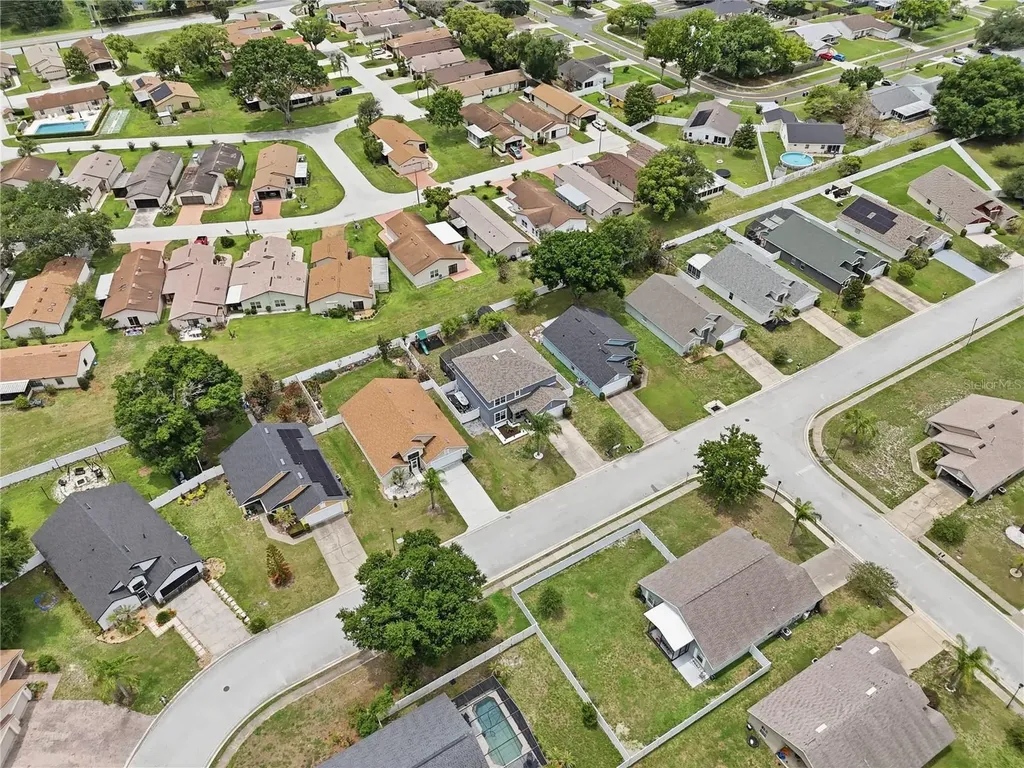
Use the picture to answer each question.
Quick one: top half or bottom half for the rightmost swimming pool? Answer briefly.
top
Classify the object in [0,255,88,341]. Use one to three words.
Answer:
house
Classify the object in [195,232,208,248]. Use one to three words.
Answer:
vehicle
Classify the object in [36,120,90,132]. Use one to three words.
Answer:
swimming pool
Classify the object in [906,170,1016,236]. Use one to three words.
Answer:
house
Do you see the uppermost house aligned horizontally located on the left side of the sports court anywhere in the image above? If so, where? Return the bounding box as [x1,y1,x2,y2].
[29,86,107,121]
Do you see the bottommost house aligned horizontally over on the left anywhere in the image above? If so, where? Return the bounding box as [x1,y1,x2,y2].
[311,693,493,768]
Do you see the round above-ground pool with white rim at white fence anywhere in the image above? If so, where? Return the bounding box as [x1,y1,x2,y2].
[781,151,815,172]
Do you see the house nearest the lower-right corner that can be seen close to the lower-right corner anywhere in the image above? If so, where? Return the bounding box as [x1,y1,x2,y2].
[741,637,957,768]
